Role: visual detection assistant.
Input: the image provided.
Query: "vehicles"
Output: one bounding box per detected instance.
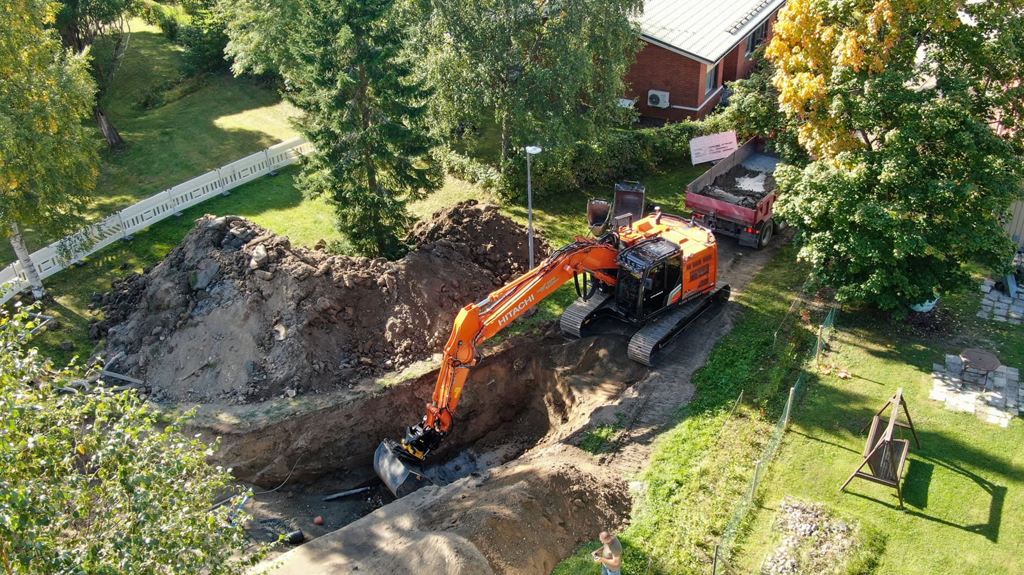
[366,203,730,496]
[681,134,788,255]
